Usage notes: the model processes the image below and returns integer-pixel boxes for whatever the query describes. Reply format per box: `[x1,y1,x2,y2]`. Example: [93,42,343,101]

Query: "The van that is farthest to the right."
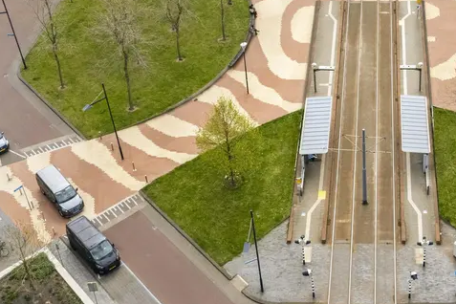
[64,213,117,272]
